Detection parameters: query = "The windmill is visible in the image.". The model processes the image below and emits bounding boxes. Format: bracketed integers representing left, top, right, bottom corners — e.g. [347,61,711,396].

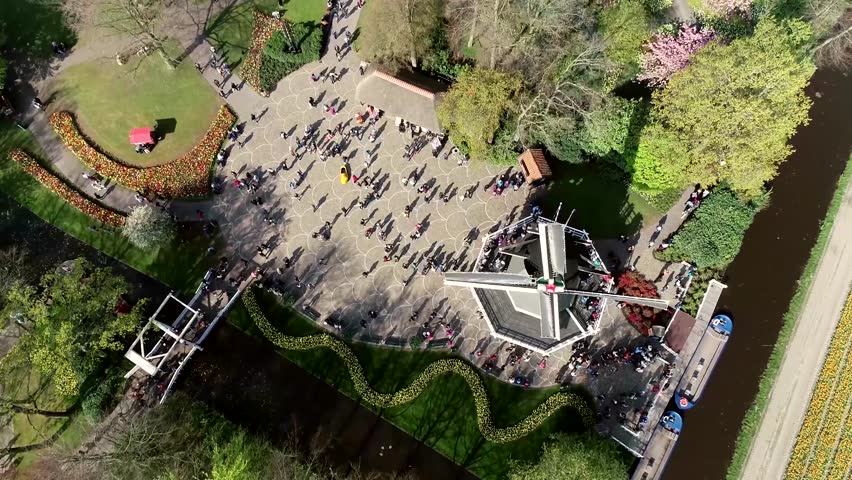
[438,203,666,357]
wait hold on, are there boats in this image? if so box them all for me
[627,406,683,480]
[662,309,733,413]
